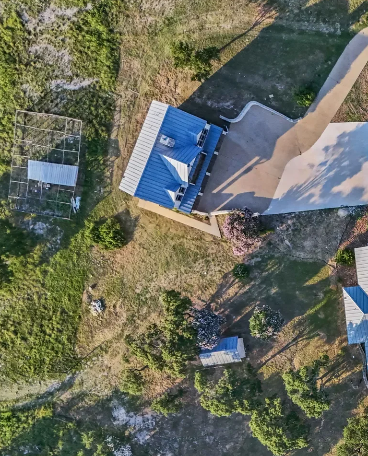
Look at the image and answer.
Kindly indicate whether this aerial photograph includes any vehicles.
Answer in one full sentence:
No, I find no vehicle anywhere in the image.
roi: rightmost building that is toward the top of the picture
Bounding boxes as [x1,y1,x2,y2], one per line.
[119,100,228,214]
